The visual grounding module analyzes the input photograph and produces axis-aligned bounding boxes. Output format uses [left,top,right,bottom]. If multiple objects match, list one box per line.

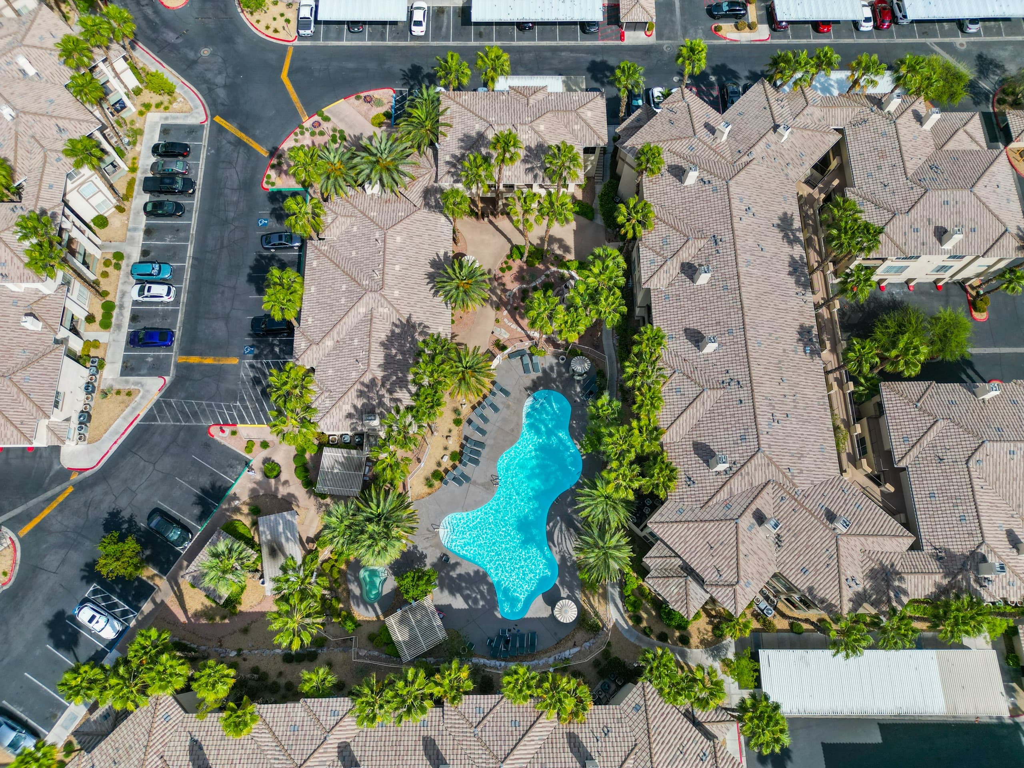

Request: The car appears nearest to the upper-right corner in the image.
[961,19,980,31]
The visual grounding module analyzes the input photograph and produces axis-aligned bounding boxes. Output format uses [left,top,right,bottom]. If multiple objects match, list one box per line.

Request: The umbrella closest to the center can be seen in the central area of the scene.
[571,355,591,374]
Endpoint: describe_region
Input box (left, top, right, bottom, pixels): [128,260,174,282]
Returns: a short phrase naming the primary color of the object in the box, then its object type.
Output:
blue car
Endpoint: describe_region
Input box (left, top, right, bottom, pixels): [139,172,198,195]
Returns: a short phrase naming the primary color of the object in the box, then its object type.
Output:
black truck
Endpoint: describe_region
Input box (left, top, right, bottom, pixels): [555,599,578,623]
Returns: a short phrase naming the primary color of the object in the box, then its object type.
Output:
white umbrella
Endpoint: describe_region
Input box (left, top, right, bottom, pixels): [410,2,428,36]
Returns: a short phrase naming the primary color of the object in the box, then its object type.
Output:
white car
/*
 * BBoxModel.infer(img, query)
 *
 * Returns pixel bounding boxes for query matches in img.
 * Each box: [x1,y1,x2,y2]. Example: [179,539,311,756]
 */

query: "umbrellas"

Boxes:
[462,254,479,270]
[555,599,578,623]
[571,355,591,374]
